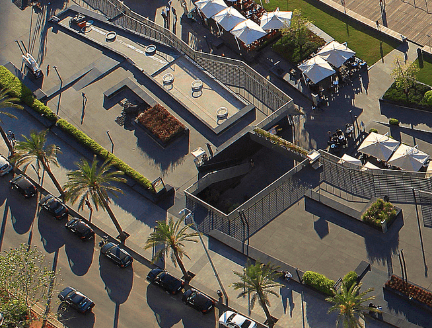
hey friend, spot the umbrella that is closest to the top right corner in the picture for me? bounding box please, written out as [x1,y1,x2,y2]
[317,39,353,65]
